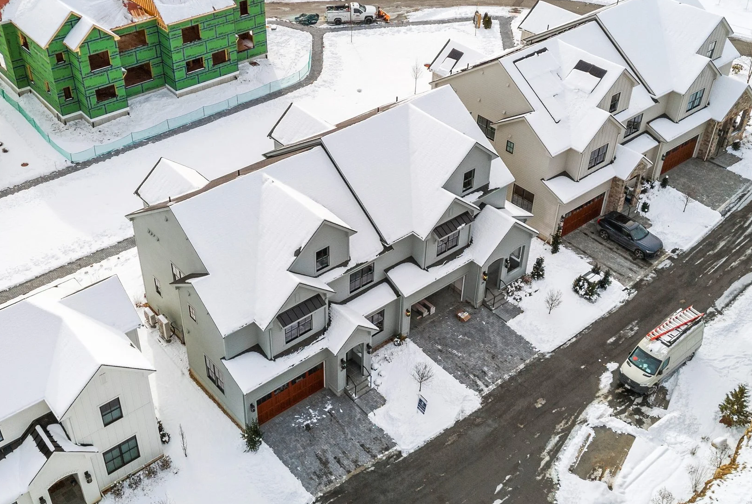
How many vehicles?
3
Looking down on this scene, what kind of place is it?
residential area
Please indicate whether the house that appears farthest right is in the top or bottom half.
top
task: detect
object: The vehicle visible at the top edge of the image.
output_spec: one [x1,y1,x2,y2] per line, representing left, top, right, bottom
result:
[329,2,388,25]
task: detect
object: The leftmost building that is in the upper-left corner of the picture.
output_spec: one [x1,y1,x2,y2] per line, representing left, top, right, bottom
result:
[0,0,269,127]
